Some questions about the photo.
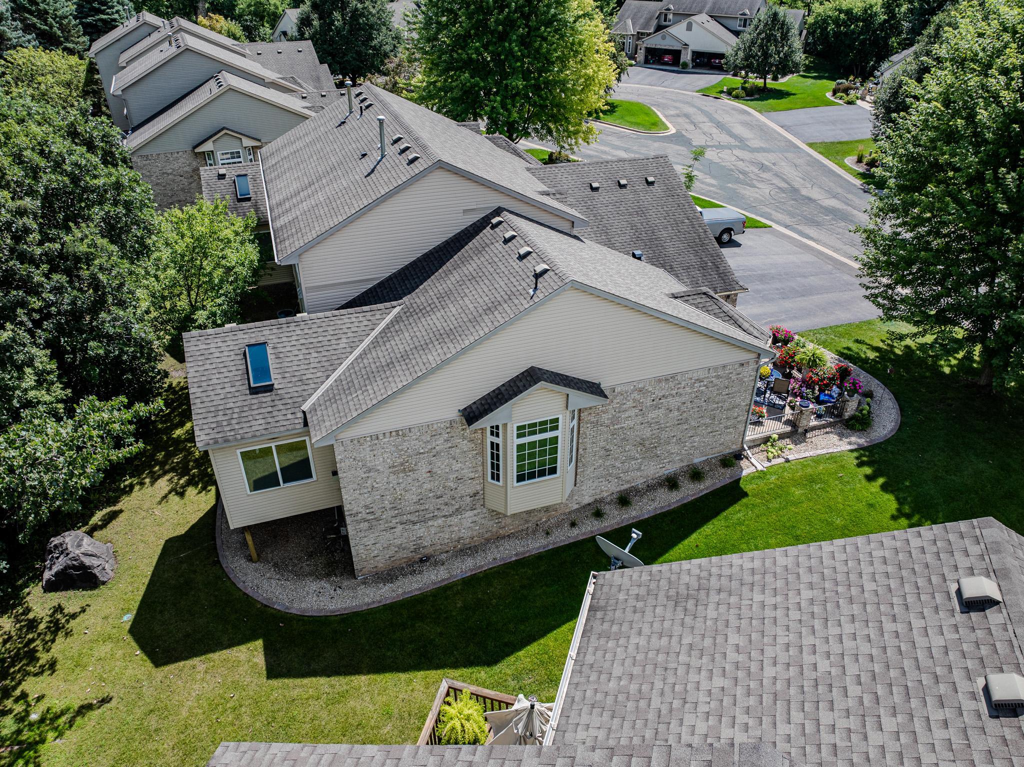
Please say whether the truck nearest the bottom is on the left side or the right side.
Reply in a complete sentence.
You can find the truck nearest the bottom on the right side of the picture.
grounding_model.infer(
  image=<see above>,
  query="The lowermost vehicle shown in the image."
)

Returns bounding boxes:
[696,204,748,245]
